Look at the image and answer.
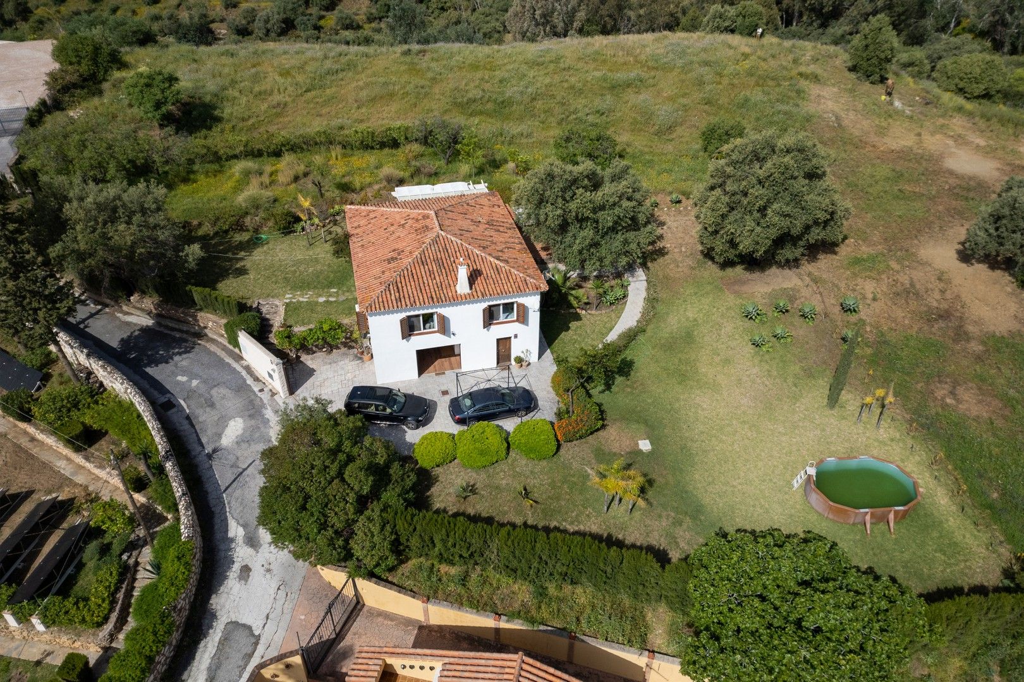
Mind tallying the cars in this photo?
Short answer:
2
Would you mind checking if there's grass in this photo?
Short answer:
Yes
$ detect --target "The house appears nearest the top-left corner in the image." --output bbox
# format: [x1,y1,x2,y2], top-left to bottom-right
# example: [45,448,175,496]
[344,189,552,383]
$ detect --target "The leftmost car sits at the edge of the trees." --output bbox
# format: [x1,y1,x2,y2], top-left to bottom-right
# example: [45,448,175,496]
[348,387,431,429]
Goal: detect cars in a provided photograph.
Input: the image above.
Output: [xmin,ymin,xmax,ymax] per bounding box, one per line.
[450,384,538,425]
[348,387,431,429]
